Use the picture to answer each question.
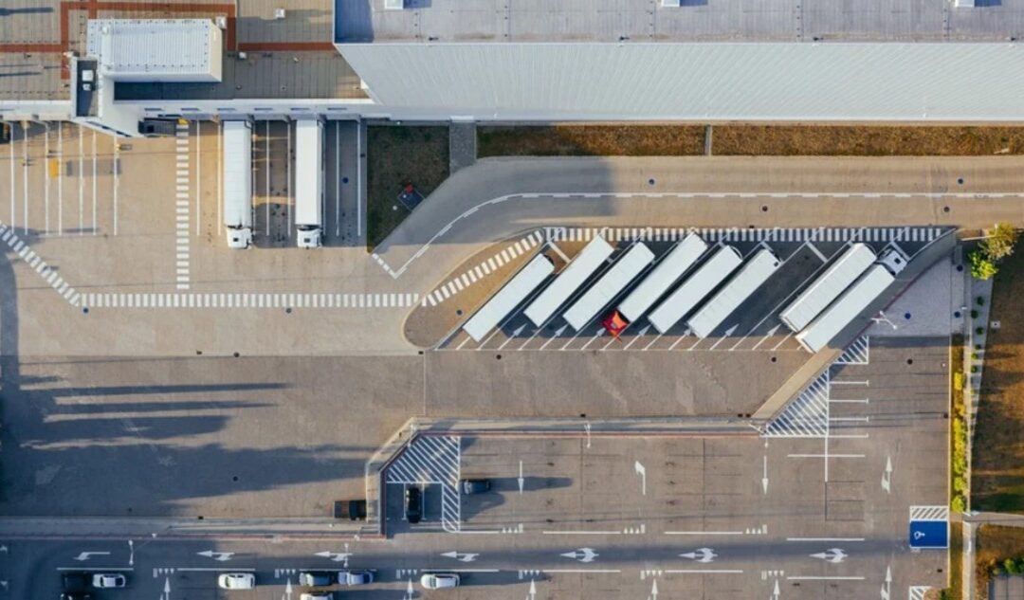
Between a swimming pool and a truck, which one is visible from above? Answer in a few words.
truck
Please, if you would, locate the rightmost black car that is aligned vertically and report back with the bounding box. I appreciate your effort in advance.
[404,485,421,523]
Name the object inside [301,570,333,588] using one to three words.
car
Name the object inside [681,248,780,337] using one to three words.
trailer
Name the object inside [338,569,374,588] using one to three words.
car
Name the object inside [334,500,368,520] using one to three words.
vehicle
